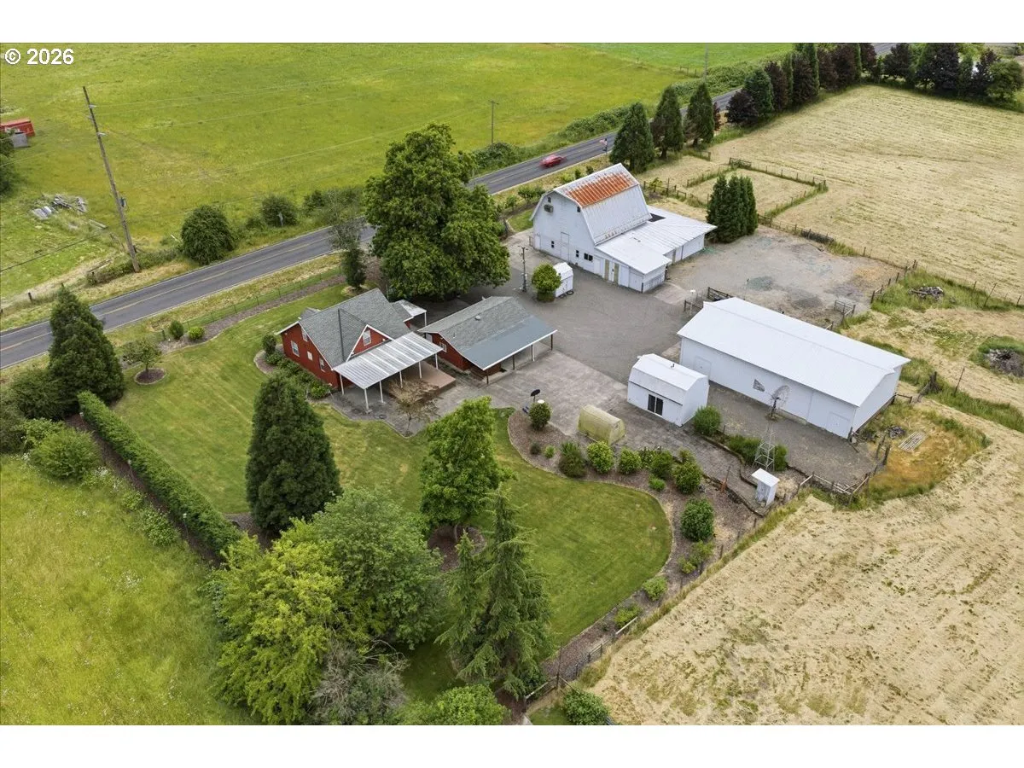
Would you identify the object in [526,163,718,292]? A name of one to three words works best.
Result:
barn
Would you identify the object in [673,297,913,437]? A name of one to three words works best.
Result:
shed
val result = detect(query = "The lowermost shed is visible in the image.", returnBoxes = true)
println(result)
[748,464,784,502]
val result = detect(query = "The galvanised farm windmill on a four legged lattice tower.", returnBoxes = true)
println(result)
[747,379,795,470]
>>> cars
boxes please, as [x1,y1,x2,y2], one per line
[543,155,569,169]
